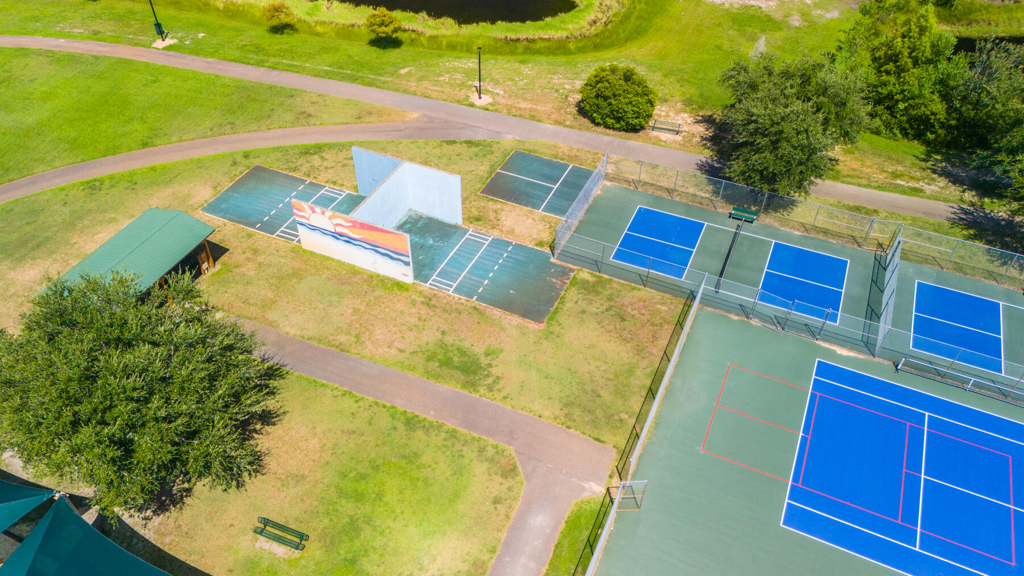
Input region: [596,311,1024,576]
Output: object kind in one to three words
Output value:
tennis court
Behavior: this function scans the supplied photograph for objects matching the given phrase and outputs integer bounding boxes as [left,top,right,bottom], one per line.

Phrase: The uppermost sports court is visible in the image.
[479,150,609,223]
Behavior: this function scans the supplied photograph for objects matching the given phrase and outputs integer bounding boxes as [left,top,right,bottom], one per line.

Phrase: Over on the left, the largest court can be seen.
[200,165,575,324]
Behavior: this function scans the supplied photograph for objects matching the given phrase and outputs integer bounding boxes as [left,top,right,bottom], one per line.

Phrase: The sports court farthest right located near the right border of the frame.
[874,257,1024,404]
